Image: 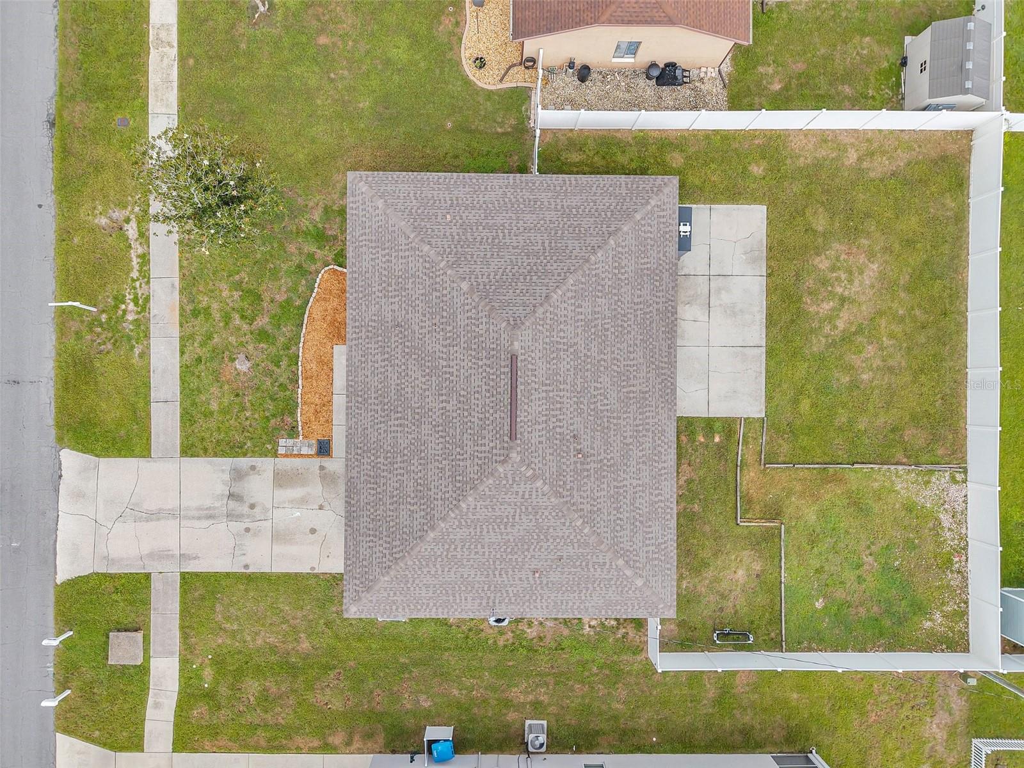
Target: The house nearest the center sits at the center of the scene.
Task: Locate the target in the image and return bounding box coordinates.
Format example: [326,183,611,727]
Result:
[344,172,678,618]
